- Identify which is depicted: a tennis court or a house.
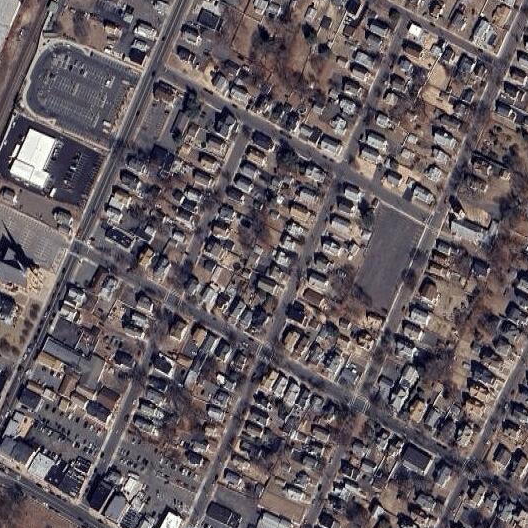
house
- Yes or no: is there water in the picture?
No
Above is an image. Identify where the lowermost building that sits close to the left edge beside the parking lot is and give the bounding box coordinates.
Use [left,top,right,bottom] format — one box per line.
[11,128,58,187]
